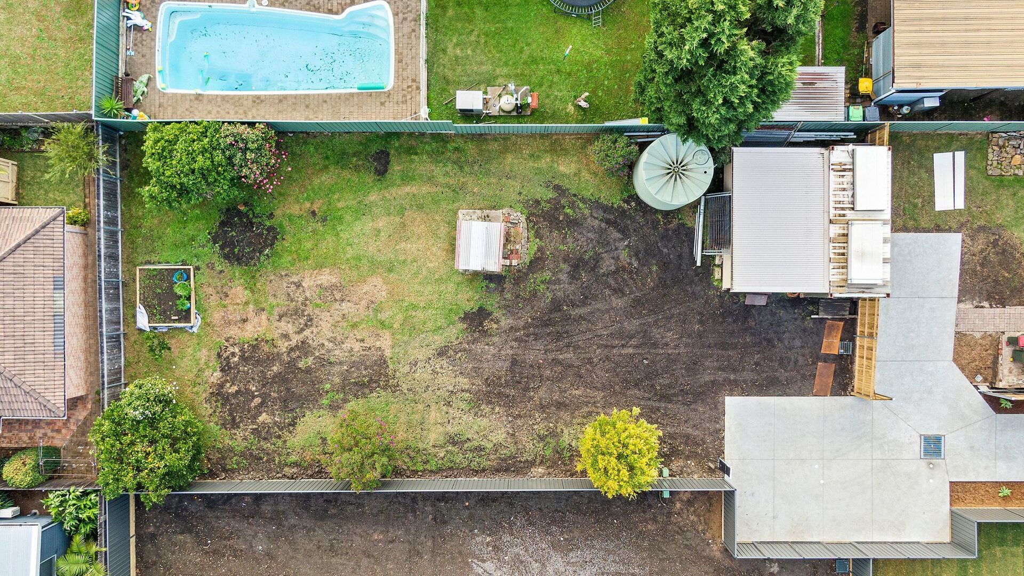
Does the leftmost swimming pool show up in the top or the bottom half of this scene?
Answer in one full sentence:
You can find the leftmost swimming pool in the top half.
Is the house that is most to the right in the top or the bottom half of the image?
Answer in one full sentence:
The house that is most to the right sits in the top half of the picture.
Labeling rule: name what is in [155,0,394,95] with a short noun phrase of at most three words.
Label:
swimming pool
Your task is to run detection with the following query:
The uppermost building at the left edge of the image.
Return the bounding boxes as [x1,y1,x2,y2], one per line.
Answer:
[0,204,89,421]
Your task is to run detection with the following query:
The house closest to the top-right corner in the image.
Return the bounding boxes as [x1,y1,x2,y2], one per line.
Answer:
[872,0,1024,105]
